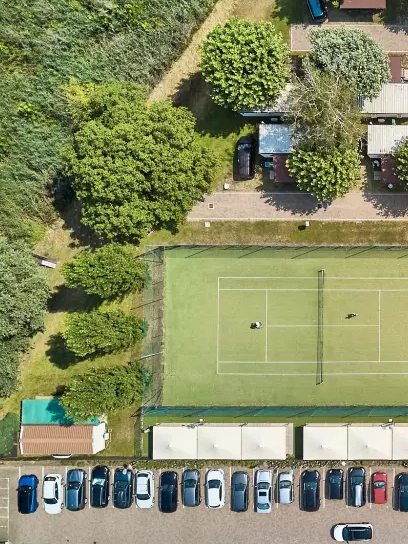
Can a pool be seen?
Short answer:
No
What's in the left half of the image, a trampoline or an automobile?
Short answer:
automobile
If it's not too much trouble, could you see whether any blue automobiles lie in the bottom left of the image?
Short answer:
Yes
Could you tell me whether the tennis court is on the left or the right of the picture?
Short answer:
right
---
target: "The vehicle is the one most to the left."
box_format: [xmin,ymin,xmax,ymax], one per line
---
[17,474,40,514]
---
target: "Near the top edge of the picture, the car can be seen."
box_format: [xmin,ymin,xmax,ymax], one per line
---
[306,0,327,22]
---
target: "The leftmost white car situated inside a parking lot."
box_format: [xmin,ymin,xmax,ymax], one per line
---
[41,475,64,514]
